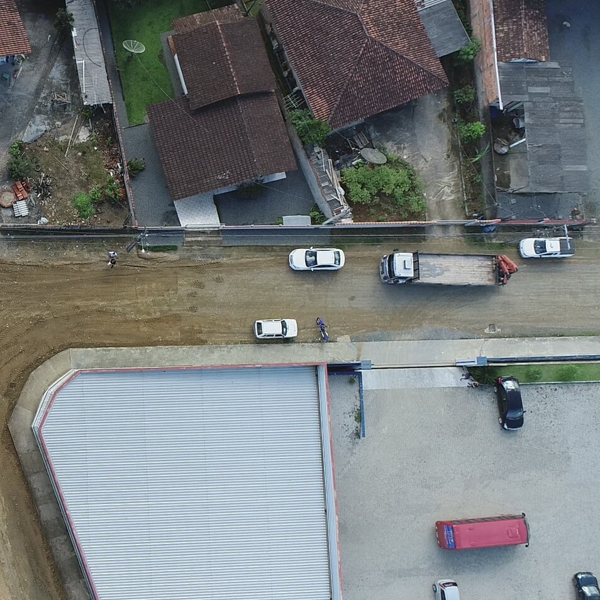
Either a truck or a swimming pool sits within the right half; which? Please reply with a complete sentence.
What appears within the right half is a truck.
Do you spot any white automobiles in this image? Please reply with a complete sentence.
Yes, the photo shows a white automobile.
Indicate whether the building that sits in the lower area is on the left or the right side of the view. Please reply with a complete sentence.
The building that sits in the lower area sits on the left side.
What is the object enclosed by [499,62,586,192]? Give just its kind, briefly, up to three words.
shed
